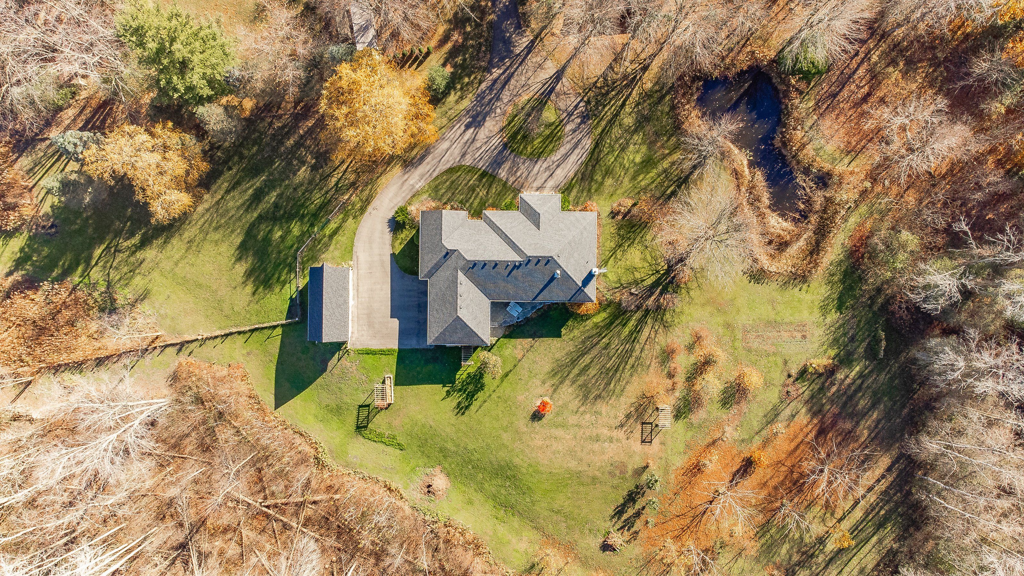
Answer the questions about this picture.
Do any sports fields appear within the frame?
No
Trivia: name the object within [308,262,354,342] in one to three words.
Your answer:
shed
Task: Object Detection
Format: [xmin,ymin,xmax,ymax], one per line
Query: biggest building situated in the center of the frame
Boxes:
[419,189,609,346]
